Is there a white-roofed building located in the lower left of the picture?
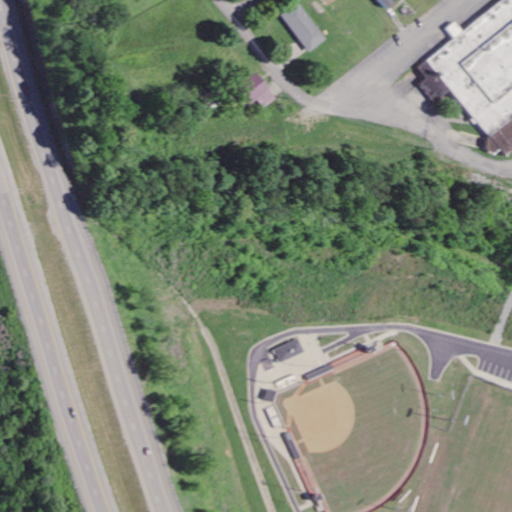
No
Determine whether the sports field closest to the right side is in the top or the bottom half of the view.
bottom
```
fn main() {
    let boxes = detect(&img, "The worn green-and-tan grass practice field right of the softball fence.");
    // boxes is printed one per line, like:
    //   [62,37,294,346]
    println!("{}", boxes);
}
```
[441,380,512,512]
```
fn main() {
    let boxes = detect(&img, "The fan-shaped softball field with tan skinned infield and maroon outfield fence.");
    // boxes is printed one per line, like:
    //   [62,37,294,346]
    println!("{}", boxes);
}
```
[276,342,430,512]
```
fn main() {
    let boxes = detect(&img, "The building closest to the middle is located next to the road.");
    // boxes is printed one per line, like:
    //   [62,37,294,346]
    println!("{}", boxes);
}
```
[276,339,300,362]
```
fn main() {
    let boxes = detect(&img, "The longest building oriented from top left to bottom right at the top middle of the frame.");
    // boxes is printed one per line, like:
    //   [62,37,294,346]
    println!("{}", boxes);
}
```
[281,4,326,52]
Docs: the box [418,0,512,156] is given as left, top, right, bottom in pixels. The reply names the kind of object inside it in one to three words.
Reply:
building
